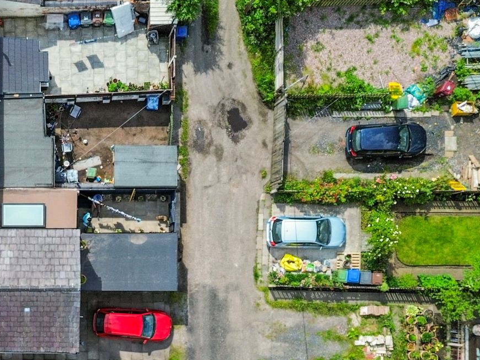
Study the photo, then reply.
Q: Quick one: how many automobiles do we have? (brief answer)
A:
3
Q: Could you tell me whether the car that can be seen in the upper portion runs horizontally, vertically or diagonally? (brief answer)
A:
horizontally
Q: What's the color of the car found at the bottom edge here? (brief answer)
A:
red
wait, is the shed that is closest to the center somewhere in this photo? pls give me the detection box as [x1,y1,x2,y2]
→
[110,146,177,189]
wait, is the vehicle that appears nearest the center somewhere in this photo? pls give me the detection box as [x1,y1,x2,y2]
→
[270,211,347,250]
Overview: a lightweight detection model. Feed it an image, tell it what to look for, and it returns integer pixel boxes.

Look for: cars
[270,211,347,250]
[96,306,172,346]
[349,118,430,158]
